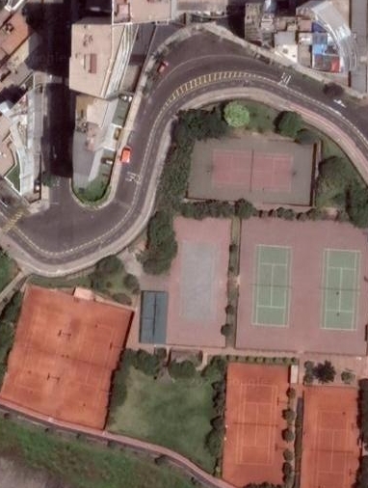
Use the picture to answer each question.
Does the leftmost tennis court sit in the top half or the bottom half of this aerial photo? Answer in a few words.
bottom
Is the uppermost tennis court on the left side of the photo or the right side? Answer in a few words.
right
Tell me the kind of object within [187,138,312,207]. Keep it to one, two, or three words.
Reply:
tennis court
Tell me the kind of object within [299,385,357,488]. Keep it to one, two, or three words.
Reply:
tennis court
